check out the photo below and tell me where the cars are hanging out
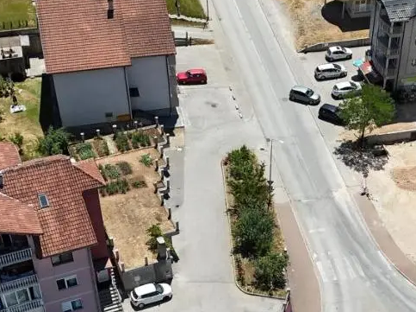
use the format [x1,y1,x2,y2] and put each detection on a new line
[331,79,362,98]
[316,99,352,123]
[315,62,348,80]
[126,280,176,309]
[287,83,321,105]
[176,67,208,85]
[323,46,355,63]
